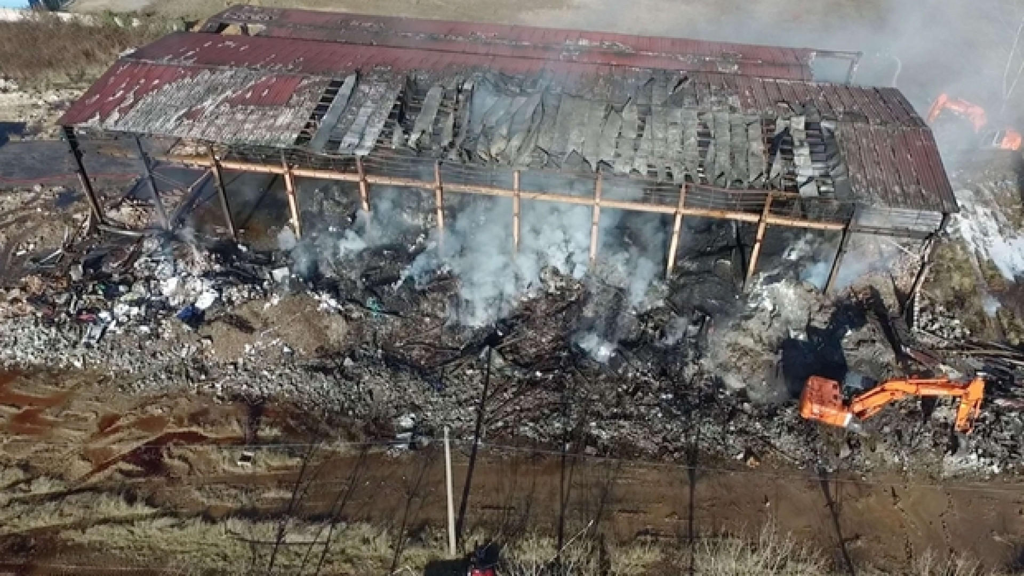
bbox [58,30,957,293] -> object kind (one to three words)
shed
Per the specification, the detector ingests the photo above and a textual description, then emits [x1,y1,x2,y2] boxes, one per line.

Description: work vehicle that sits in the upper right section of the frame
[926,89,1024,168]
